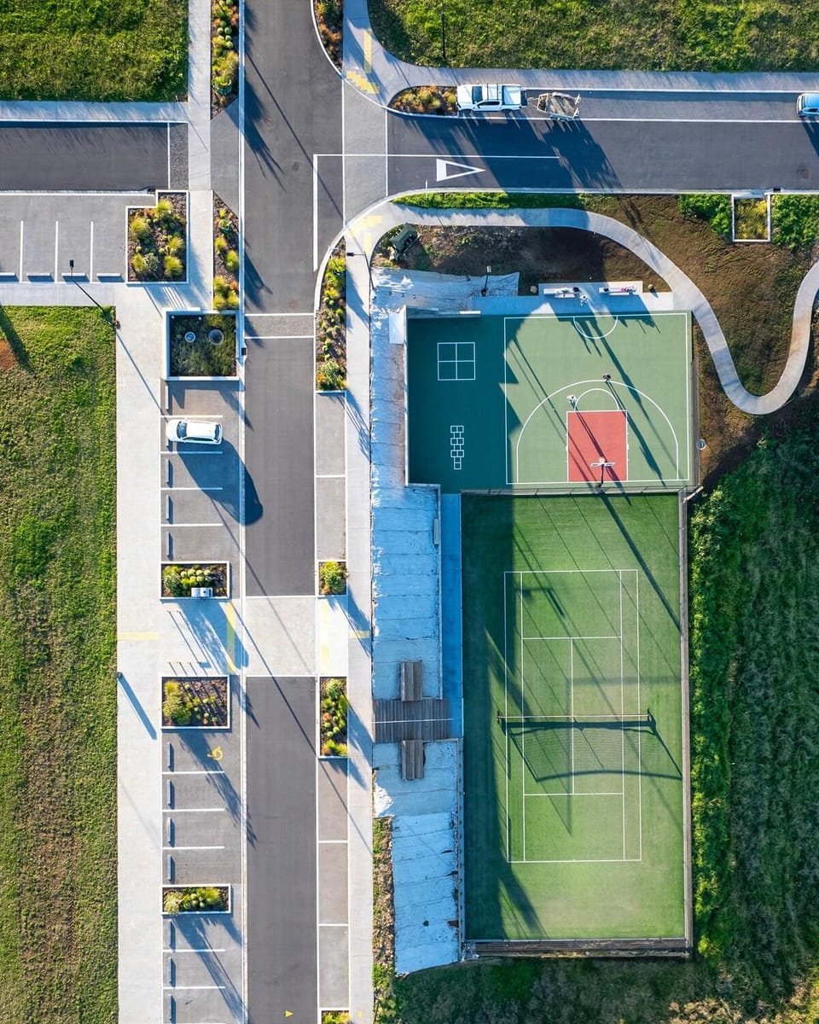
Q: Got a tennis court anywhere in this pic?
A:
Yes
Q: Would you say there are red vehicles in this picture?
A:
No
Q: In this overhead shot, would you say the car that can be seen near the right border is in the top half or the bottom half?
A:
top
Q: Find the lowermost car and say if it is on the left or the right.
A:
left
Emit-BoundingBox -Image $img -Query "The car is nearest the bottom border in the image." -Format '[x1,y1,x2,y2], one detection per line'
[167,415,223,445]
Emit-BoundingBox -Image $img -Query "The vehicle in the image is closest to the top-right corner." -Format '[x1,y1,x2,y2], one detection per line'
[799,84,819,112]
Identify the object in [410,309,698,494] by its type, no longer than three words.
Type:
basketball court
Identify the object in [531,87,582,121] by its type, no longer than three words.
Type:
trailer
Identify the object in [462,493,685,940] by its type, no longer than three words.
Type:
tennis court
